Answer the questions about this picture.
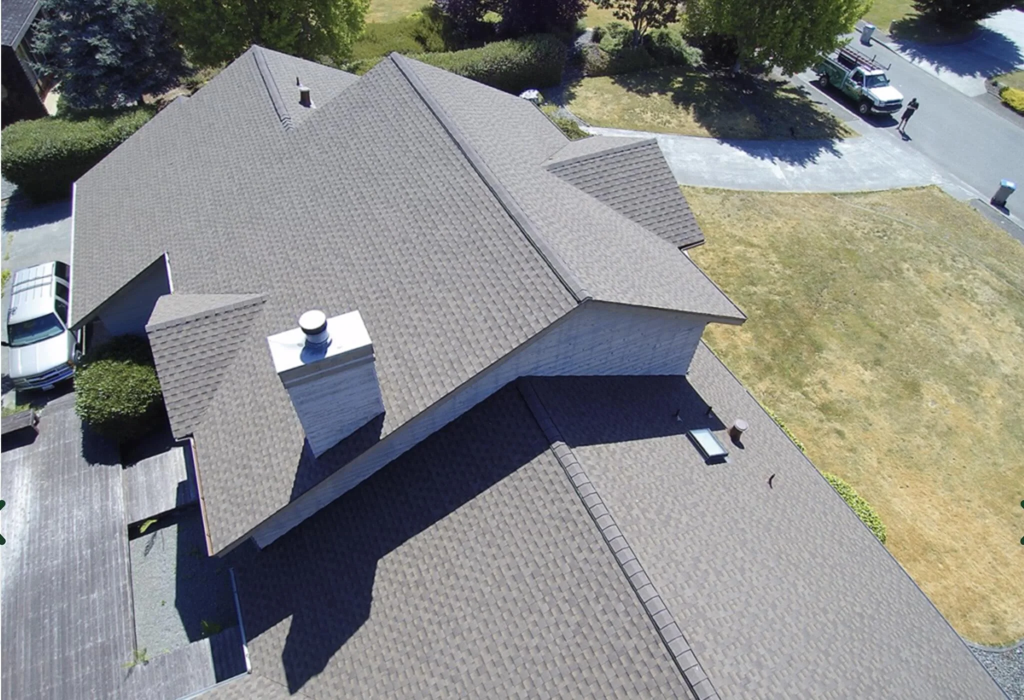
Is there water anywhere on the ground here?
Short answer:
No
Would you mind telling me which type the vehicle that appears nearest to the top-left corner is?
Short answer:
automobile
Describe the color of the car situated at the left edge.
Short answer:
white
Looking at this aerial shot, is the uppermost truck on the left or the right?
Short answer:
right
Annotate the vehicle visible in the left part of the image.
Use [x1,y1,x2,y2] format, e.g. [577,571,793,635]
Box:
[1,264,87,395]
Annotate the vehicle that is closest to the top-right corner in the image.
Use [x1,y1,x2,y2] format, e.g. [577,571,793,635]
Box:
[804,36,908,121]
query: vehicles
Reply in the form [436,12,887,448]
[1,264,87,395]
[804,36,908,121]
